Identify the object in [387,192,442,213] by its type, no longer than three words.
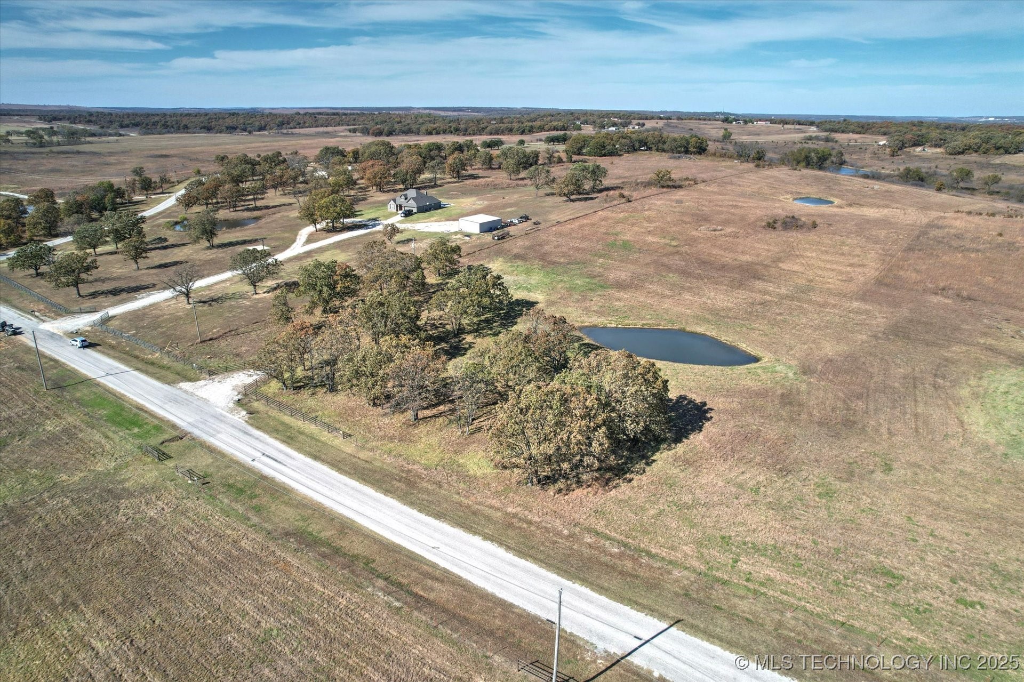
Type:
house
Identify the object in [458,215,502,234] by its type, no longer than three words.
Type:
building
